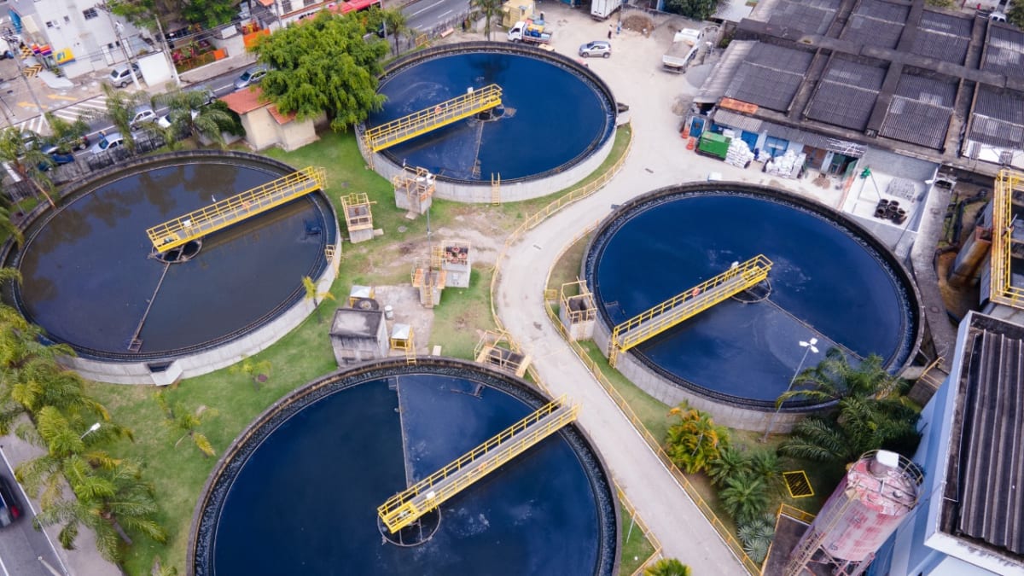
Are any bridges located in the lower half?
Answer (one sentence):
Yes, a bridge appears in the lower half.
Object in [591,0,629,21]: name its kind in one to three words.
truck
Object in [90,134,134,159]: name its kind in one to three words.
car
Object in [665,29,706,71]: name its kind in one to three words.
truck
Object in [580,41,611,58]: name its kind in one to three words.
car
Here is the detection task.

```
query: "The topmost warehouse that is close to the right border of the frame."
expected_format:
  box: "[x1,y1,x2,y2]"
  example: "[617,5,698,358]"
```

[693,0,1024,214]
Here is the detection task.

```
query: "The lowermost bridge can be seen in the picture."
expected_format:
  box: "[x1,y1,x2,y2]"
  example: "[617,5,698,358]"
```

[380,391,580,537]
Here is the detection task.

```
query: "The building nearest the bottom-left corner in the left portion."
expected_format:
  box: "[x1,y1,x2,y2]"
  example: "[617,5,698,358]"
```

[328,309,389,368]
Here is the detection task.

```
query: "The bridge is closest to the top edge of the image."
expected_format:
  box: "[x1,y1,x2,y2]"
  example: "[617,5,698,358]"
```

[361,85,502,173]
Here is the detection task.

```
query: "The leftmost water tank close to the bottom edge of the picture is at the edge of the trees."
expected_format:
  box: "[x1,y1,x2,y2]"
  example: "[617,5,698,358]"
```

[185,358,625,576]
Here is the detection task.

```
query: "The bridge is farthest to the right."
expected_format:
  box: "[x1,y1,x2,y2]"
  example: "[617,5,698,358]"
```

[607,255,775,373]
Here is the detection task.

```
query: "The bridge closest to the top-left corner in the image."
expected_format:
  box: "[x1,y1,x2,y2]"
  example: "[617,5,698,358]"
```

[147,166,327,252]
